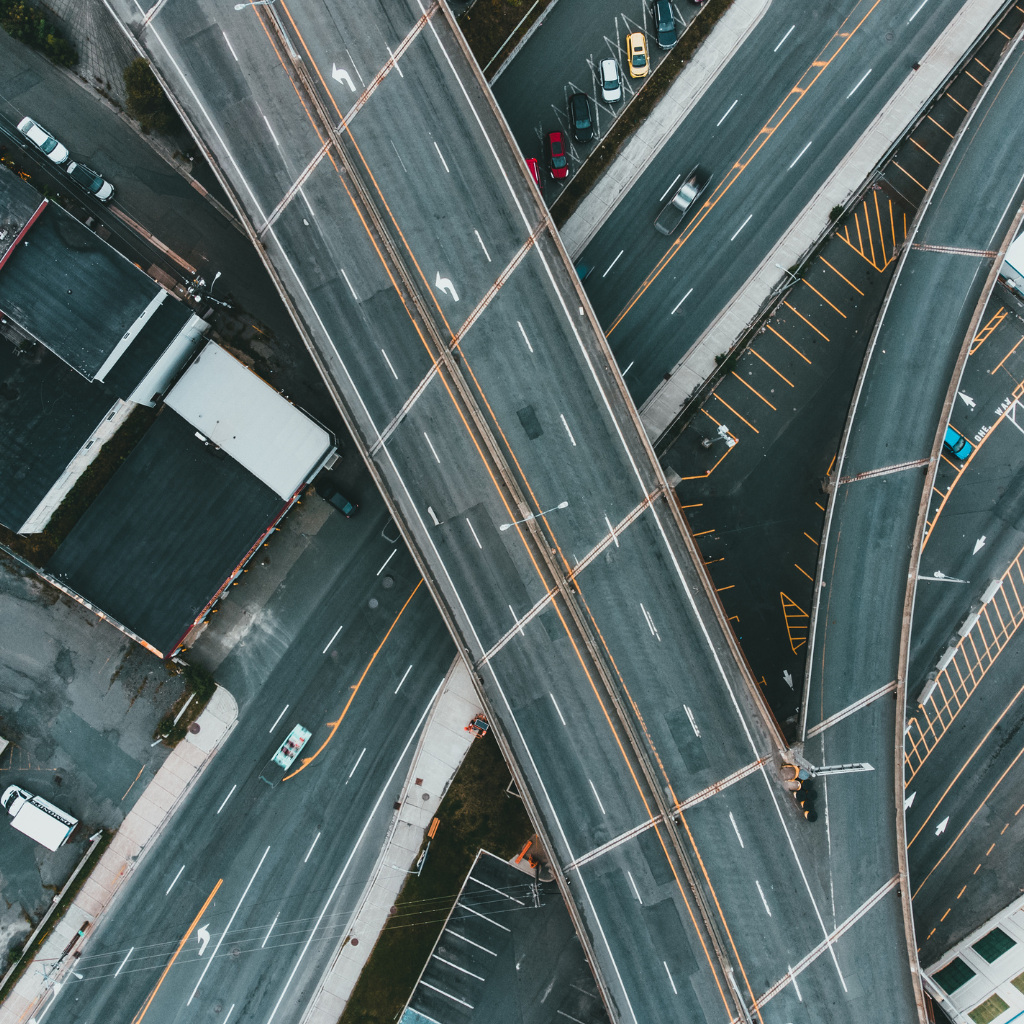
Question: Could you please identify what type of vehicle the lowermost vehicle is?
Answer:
truck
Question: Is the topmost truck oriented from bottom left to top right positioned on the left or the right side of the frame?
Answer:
right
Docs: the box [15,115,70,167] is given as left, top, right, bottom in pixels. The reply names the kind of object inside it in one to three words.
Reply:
car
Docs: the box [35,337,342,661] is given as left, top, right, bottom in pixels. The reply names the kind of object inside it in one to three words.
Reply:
building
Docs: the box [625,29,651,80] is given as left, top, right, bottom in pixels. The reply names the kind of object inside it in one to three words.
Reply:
car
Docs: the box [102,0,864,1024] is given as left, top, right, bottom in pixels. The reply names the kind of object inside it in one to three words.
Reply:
overpass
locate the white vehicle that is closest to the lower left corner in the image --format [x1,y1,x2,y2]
[2,783,84,851]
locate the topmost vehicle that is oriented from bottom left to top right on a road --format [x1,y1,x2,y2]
[655,164,711,236]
